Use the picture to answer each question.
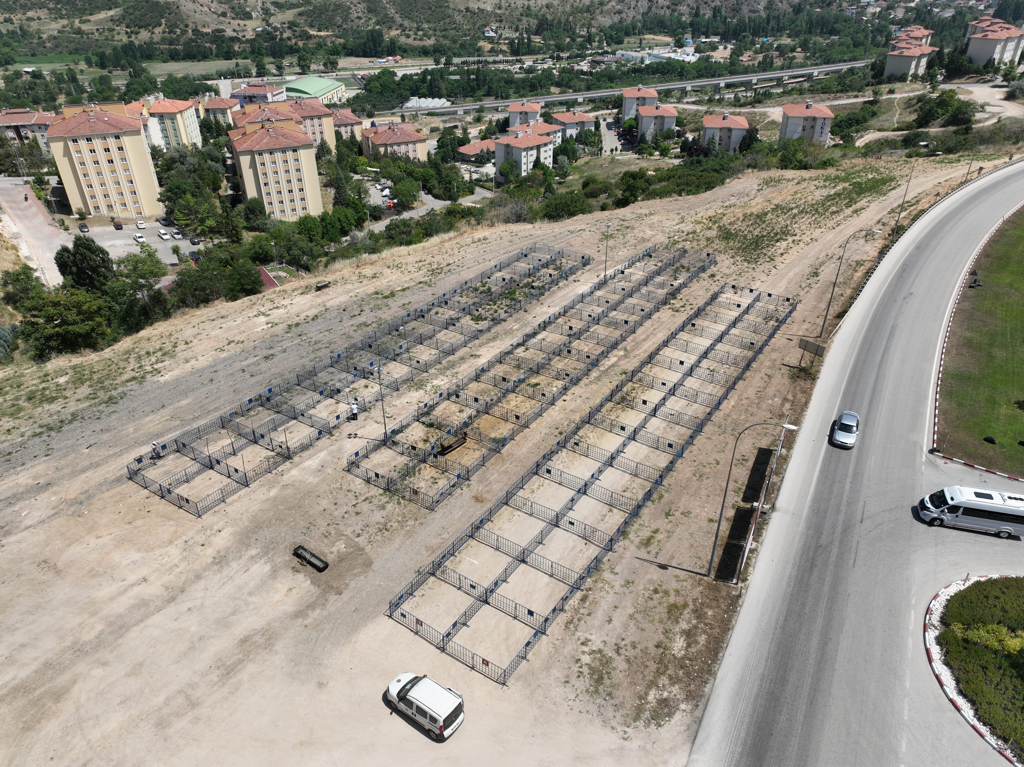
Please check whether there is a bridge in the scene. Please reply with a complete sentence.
Yes, there's a bridge down there.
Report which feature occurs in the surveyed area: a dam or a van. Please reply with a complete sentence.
This aerial view contains a van.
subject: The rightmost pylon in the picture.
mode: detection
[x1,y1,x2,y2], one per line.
[260,239,282,285]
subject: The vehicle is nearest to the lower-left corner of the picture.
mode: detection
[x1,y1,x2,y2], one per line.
[385,671,469,747]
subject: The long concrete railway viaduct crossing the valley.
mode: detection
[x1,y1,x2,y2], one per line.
[349,54,882,120]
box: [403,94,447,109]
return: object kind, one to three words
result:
greenhouse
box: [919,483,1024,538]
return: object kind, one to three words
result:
vehicle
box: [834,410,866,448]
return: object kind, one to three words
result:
car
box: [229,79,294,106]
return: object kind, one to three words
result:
building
